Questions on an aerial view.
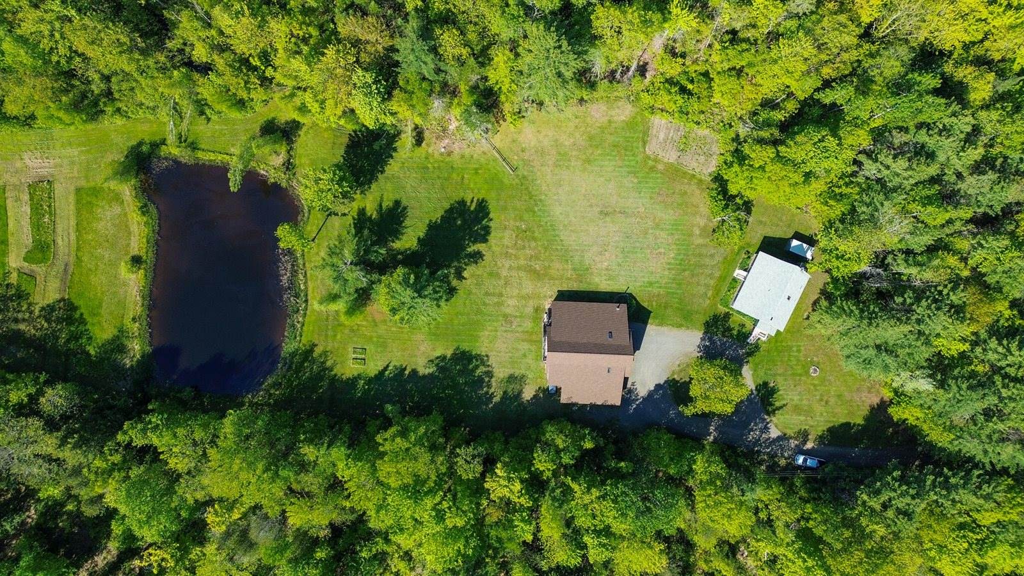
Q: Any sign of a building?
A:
Yes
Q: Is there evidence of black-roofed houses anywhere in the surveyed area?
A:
No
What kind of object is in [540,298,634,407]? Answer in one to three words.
house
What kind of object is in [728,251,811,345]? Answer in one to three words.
house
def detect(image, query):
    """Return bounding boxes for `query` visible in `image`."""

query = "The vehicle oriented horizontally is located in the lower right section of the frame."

[792,452,826,469]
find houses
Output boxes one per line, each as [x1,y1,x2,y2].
[728,251,811,345]
[540,298,634,407]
